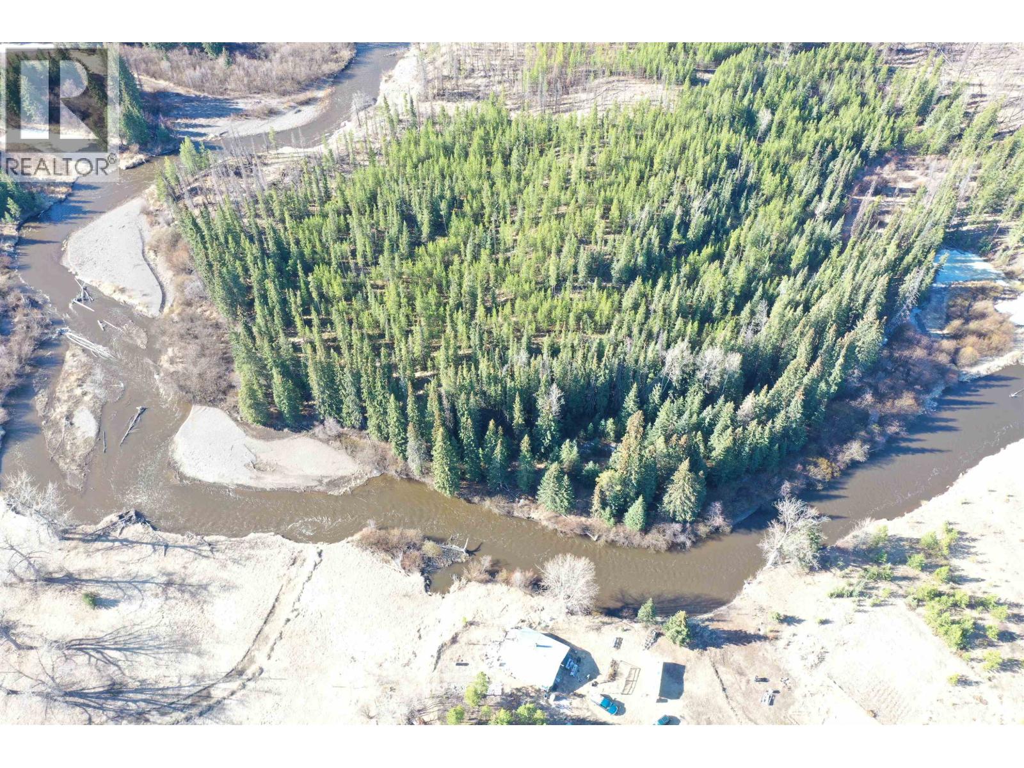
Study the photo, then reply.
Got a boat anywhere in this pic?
No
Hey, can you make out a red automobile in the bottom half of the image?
No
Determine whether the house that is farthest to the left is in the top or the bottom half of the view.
bottom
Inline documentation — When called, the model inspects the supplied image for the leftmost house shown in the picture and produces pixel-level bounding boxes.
[503,630,569,691]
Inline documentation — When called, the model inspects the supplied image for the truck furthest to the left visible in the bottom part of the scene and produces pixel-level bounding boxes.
[588,691,621,719]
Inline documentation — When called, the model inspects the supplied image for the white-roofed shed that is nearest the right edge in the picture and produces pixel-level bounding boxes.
[637,660,663,704]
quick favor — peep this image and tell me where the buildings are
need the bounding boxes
[637,660,663,704]
[503,630,569,691]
